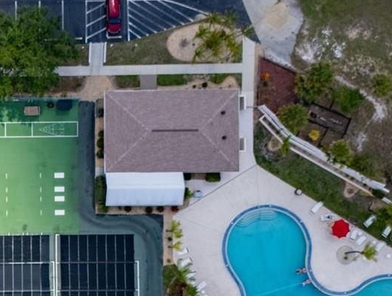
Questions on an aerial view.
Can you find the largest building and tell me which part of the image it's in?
center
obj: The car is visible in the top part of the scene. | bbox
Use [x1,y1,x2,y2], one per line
[105,0,122,37]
